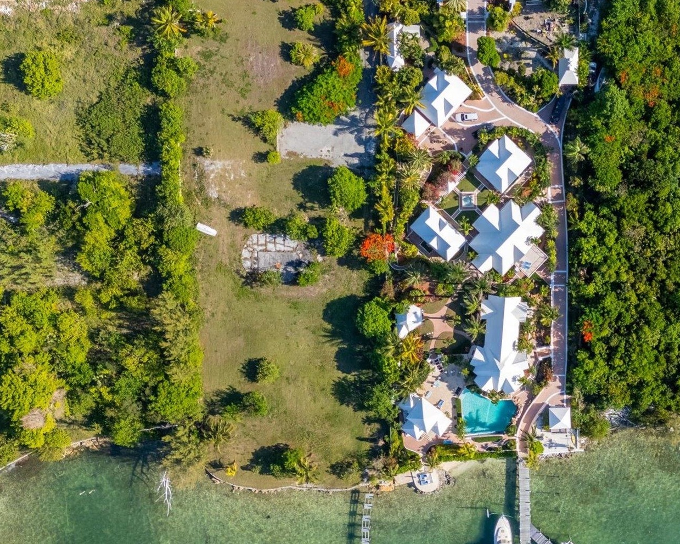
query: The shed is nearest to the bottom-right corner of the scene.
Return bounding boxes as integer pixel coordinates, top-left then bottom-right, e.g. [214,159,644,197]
[549,406,571,429]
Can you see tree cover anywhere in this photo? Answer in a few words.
Yes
